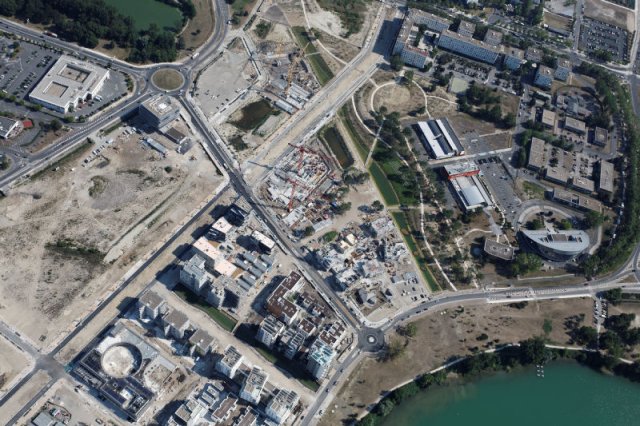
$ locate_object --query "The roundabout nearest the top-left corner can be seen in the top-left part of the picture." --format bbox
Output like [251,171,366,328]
[141,61,194,98]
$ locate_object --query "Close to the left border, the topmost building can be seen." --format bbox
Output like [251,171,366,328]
[29,54,109,114]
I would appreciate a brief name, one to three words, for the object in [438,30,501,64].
building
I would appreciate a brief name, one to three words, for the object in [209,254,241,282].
house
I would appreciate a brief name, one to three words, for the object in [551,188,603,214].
building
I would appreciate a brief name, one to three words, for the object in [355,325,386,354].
roundabout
